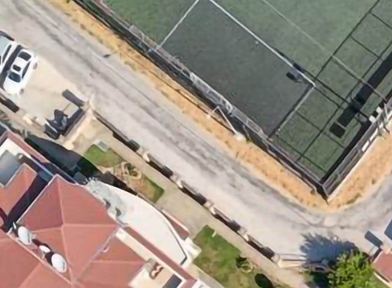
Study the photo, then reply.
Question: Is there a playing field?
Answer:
Yes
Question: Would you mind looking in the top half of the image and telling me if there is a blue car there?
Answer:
No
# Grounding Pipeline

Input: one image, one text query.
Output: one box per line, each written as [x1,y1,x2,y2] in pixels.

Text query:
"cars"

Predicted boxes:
[0,31,19,78]
[1,46,40,95]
